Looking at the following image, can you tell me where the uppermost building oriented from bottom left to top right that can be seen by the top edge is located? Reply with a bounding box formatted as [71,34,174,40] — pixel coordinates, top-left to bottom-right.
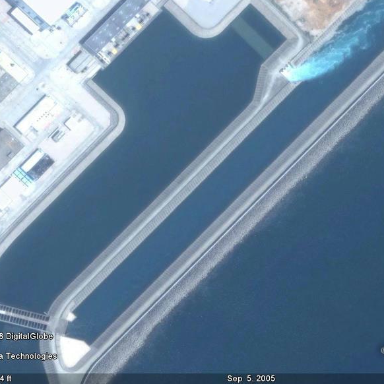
[83,0,150,56]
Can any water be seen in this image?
Yes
